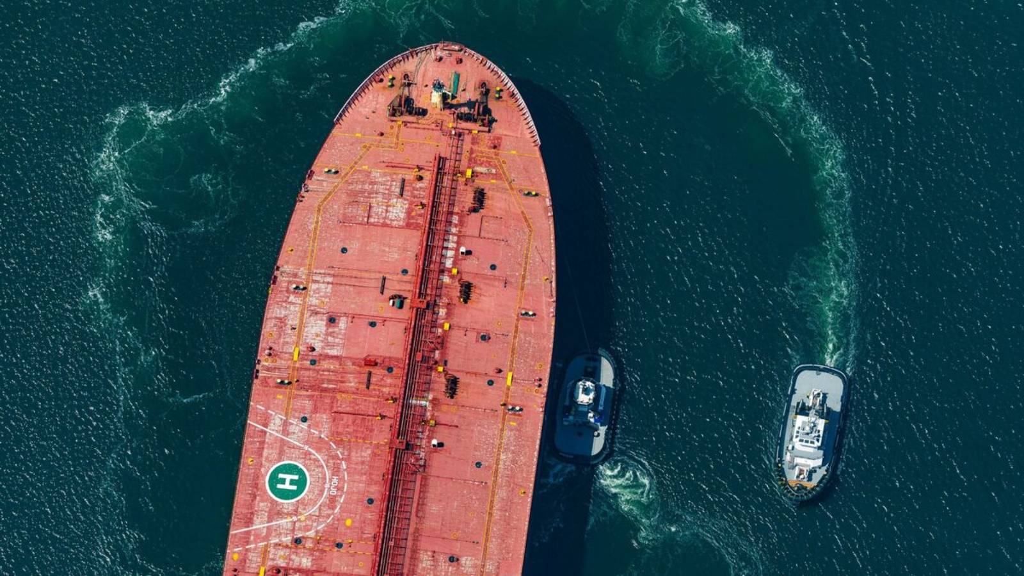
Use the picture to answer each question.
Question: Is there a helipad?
Yes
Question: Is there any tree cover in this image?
No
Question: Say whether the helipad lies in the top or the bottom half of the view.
bottom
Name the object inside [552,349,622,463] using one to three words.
boat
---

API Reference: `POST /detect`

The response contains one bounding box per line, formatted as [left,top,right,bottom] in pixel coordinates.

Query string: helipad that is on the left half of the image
[228,403,347,551]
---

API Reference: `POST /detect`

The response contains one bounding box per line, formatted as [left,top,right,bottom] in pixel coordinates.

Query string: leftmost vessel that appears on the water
[222,41,557,576]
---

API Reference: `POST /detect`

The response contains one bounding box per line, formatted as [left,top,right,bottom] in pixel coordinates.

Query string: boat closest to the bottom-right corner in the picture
[775,364,849,505]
